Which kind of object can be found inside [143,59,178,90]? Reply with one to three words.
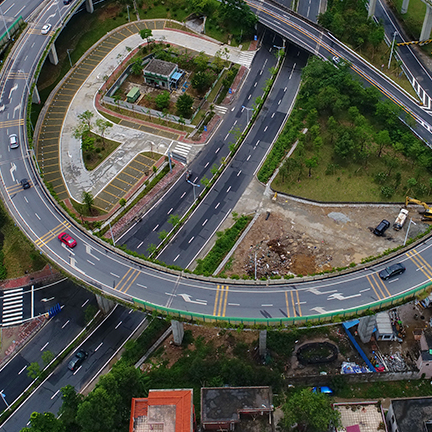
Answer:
house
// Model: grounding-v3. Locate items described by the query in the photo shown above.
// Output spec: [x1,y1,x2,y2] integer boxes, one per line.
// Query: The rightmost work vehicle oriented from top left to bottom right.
[404,199,432,220]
